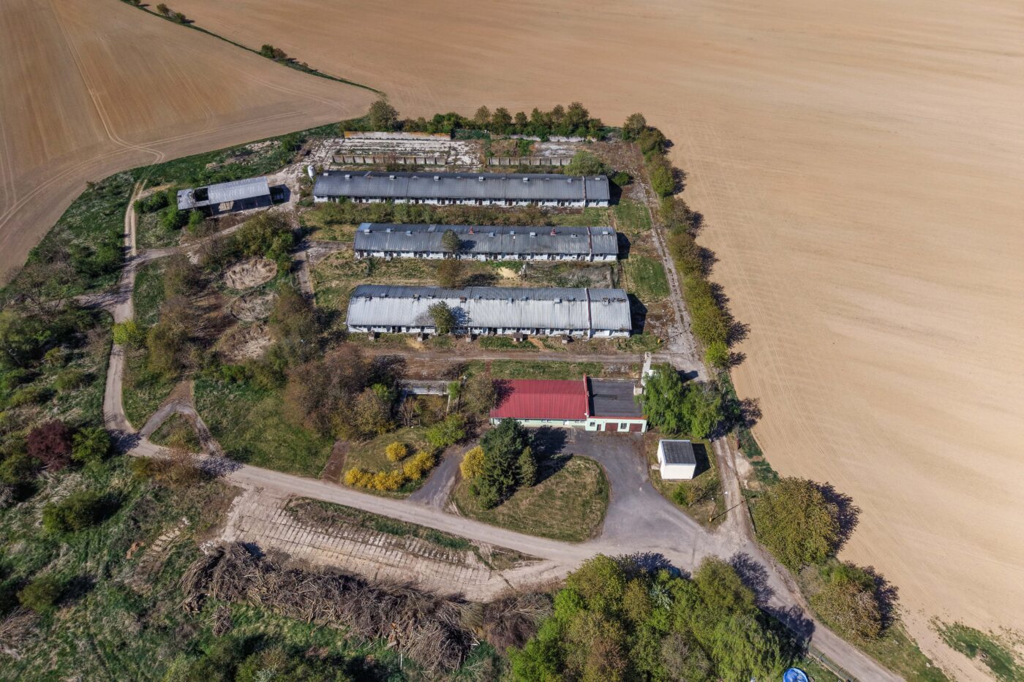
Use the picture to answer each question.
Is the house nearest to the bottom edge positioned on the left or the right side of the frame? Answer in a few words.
right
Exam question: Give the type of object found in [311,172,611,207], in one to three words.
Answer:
barn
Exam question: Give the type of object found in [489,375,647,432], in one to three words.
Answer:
building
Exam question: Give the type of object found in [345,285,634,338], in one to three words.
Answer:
barn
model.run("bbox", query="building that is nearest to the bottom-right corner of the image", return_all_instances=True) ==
[652,439,696,479]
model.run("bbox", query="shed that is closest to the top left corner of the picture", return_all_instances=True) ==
[177,177,275,222]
